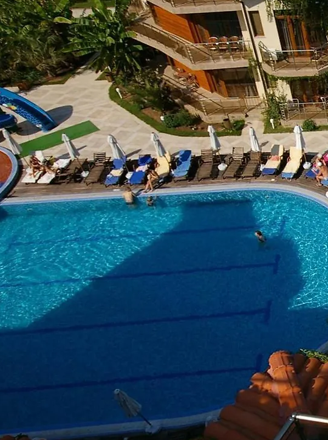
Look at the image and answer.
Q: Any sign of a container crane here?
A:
No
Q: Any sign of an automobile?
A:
No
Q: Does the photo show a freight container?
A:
No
